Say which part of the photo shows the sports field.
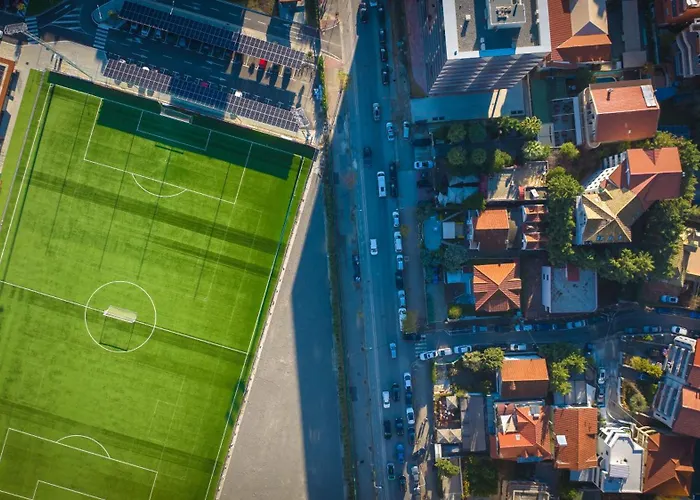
left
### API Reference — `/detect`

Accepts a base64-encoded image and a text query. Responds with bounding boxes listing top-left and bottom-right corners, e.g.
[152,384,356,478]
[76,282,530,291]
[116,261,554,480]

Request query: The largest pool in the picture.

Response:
[422,218,442,252]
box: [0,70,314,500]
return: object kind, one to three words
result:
sports field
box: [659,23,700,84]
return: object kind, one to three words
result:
building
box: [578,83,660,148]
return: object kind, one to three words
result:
house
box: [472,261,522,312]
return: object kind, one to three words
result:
house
